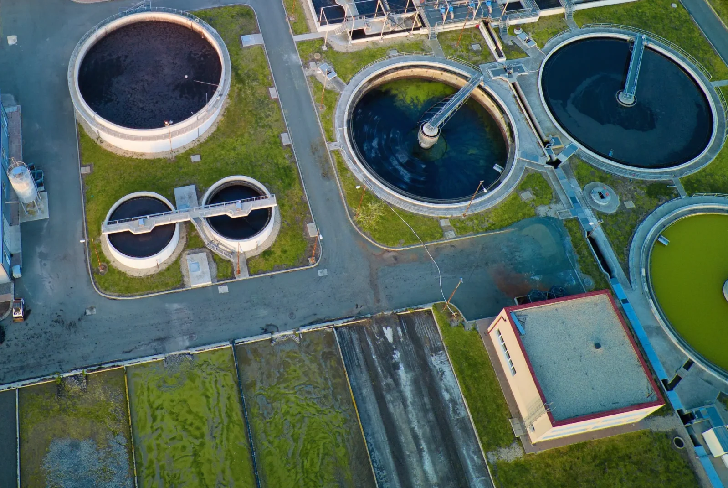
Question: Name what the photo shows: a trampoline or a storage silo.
storage silo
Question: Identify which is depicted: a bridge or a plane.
bridge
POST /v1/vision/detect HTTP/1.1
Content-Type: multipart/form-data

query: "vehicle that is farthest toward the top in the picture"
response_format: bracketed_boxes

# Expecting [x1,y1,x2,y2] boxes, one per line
[8,293,27,326]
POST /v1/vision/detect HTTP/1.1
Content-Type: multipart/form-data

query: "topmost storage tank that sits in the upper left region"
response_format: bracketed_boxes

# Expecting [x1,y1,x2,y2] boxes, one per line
[67,0,234,153]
